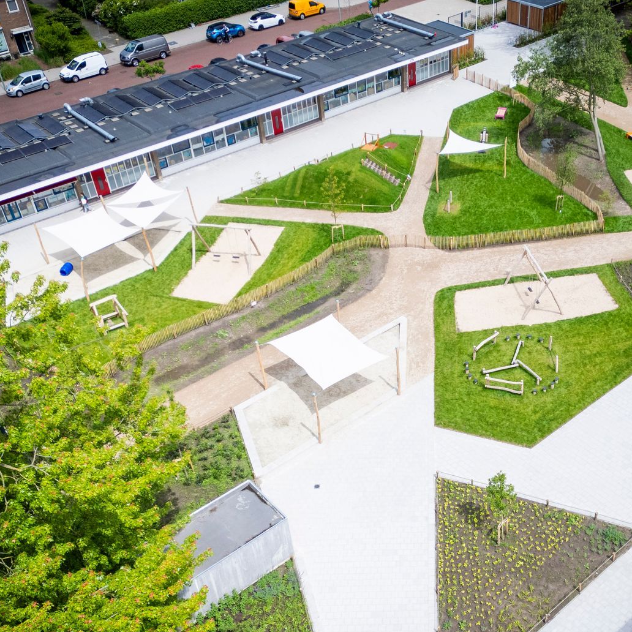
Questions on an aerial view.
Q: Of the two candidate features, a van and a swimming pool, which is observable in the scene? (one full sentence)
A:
Visible in the photo is a van.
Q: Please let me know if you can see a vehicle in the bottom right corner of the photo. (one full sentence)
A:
No, I see no vehicle in the bottom right corner of the photo.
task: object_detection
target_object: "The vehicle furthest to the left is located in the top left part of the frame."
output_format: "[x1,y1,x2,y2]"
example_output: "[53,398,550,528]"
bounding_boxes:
[3,65,53,94]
